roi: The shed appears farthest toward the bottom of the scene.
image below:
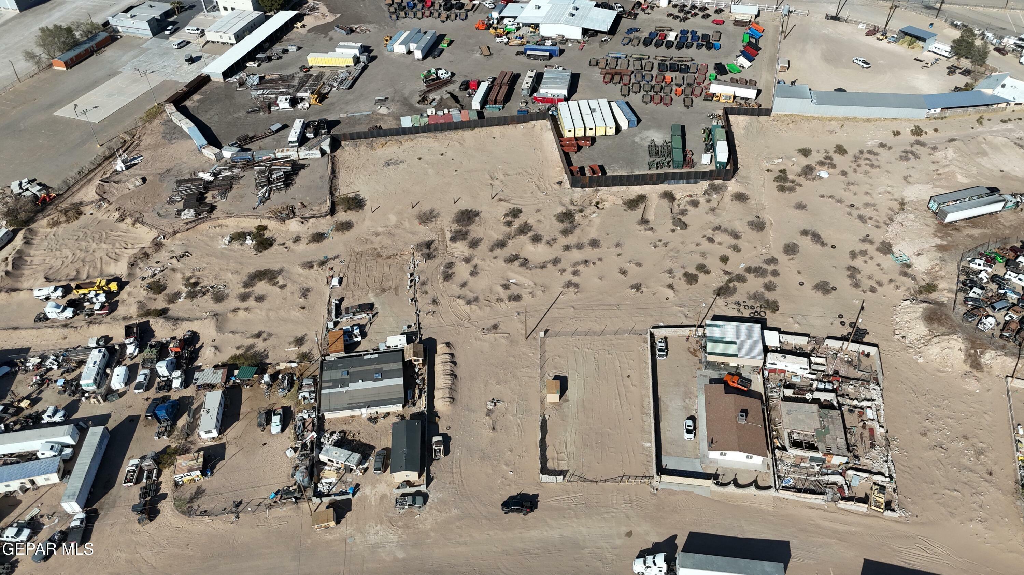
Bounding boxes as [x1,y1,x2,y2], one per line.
[312,507,336,533]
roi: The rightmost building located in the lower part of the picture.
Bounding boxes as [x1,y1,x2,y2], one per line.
[778,402,848,466]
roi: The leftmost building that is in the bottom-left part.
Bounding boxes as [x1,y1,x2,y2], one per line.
[0,456,69,493]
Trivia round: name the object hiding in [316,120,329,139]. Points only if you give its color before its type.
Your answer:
black vehicle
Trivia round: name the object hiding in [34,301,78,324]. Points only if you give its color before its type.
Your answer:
white truck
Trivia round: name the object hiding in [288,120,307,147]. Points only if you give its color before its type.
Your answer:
white camper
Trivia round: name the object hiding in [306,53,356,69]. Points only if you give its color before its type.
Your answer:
yellow trailer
